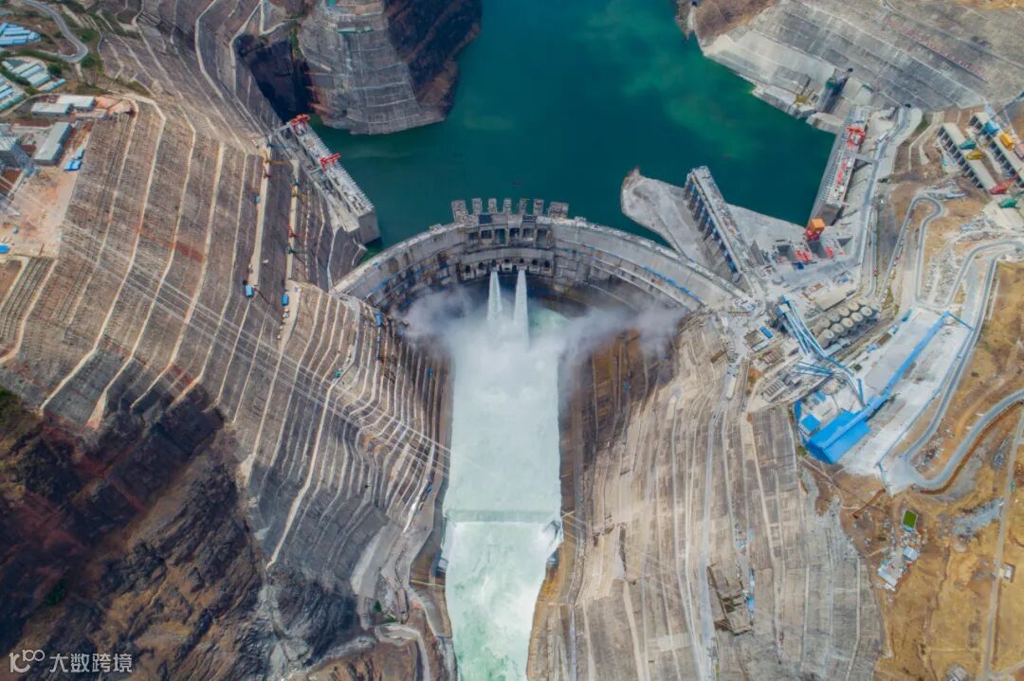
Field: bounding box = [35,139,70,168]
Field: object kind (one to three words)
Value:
building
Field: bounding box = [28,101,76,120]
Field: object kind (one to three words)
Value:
building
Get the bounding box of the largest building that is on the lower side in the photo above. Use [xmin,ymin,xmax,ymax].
[802,412,867,469]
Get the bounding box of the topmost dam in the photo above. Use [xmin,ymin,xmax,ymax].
[332,203,765,345]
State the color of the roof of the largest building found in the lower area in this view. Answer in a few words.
blue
